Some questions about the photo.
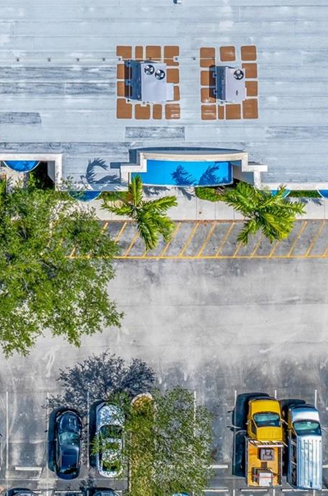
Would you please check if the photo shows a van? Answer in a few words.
Yes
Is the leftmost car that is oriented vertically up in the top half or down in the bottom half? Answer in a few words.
bottom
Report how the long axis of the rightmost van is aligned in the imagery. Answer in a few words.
up and down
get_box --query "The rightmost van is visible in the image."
[283,403,325,494]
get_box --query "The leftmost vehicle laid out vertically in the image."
[48,408,82,480]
